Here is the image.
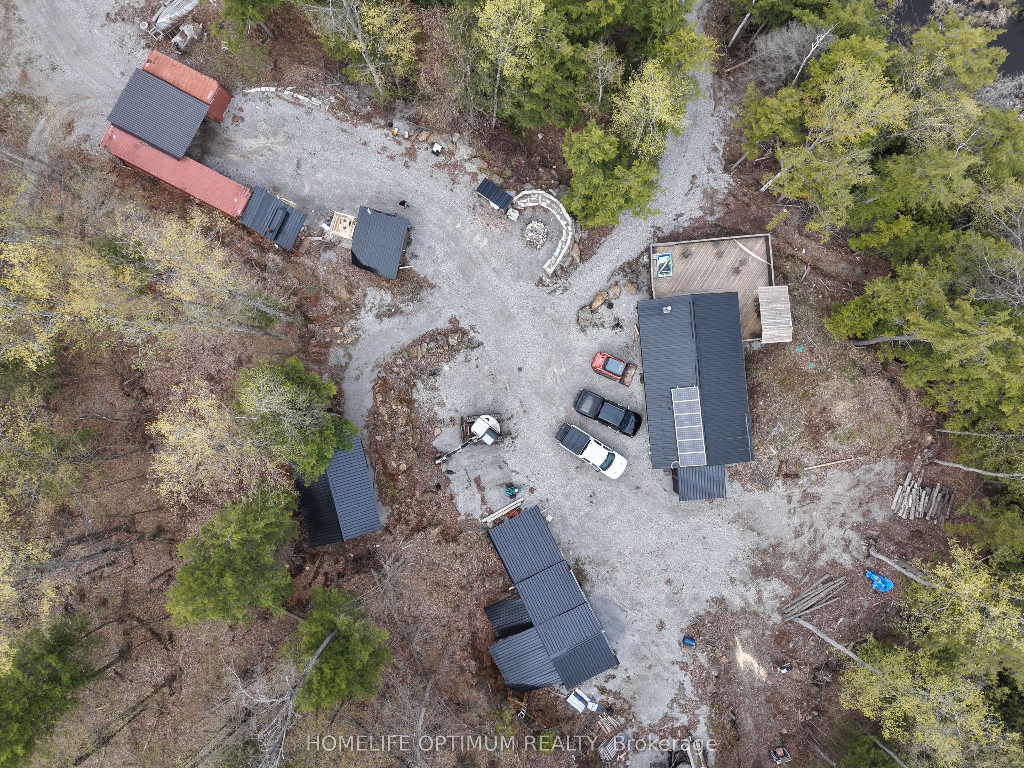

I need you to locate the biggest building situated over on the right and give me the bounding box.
[635,292,754,470]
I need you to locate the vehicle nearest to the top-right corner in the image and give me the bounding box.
[594,354,641,393]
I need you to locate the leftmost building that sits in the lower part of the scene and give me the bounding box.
[289,437,382,547]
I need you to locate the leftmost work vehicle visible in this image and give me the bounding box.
[436,417,500,462]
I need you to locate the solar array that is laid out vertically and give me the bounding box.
[671,385,707,468]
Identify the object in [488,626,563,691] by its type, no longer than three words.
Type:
shed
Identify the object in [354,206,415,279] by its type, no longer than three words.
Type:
shed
